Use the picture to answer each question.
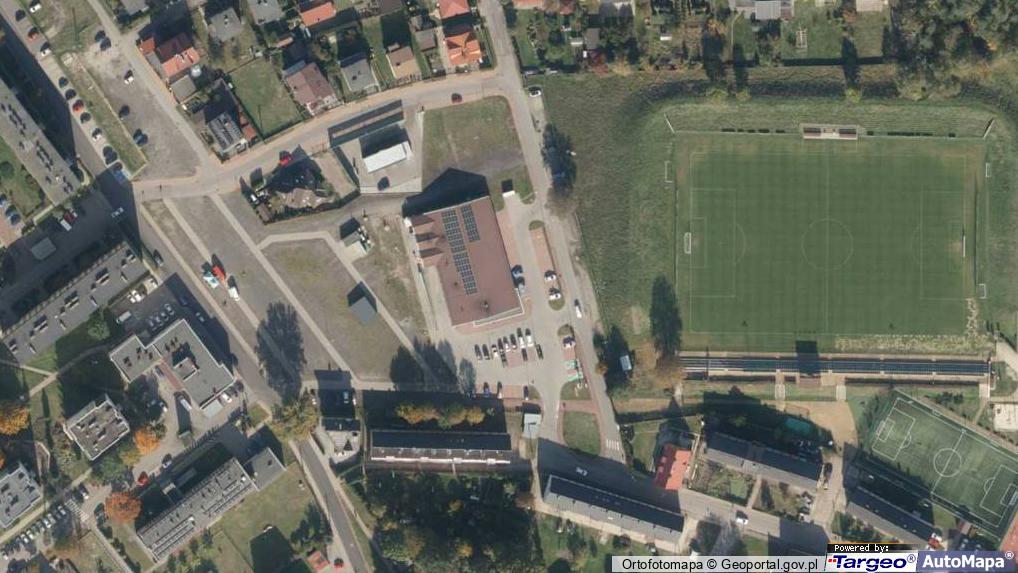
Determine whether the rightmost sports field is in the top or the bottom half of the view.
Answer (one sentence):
The rightmost sports field sits in the bottom half of the picture.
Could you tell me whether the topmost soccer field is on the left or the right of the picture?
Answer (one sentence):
It is on the right.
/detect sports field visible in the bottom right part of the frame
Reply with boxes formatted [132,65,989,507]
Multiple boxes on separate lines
[859,389,1018,533]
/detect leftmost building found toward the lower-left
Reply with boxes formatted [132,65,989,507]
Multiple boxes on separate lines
[0,463,42,531]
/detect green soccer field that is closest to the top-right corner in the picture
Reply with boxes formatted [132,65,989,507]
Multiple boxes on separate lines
[690,151,965,334]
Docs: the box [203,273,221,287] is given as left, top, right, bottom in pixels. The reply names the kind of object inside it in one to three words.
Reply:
vehicle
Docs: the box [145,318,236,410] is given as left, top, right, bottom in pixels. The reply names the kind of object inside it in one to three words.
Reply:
building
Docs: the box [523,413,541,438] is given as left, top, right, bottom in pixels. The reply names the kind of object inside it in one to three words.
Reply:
shed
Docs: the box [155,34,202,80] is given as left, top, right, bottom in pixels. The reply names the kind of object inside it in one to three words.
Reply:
house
